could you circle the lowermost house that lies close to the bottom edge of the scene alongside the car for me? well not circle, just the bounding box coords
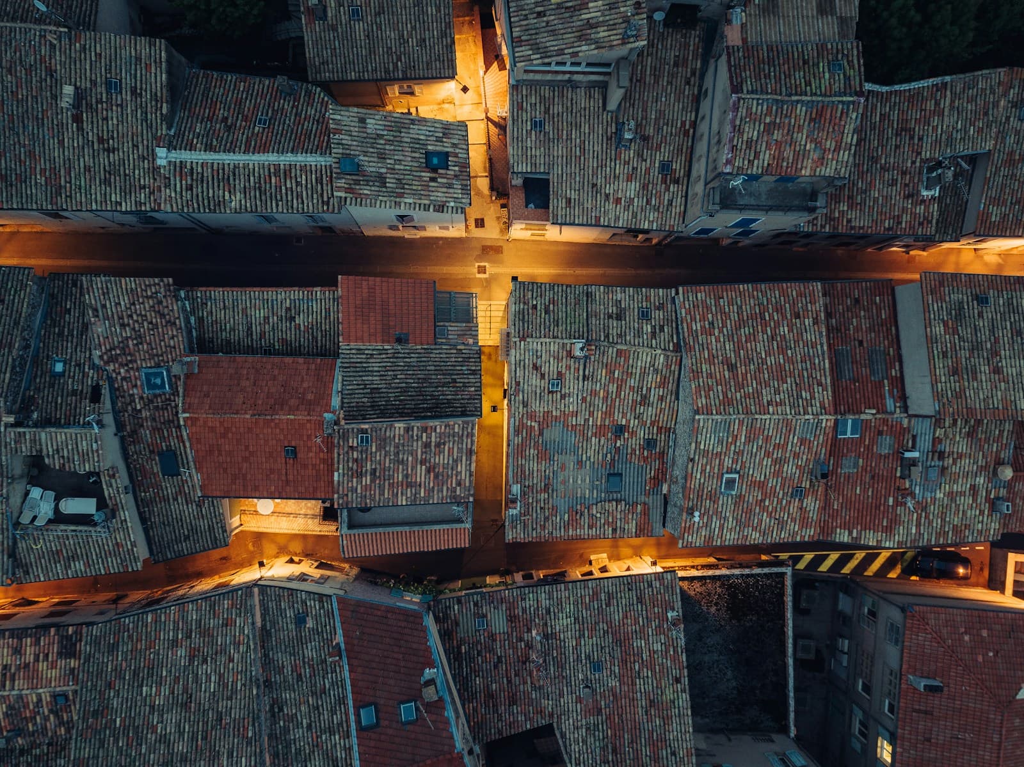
[841,576,1024,767]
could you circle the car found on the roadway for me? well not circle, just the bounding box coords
[918,554,980,585]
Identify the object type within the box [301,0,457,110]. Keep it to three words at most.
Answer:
house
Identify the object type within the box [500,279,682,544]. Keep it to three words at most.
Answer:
house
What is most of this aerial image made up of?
buildings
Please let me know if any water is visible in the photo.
No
